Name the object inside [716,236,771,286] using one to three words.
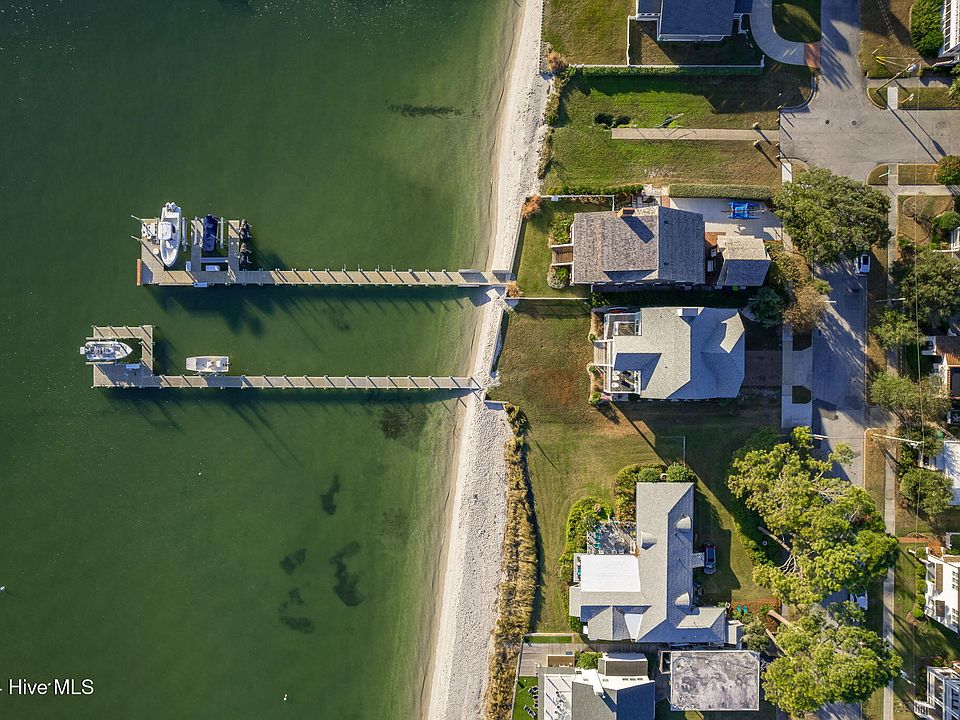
building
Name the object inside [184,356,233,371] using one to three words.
boat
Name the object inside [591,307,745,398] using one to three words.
house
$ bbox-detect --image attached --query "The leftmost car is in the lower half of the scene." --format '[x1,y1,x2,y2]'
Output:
[700,541,717,574]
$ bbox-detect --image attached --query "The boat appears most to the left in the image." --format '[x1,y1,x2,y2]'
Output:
[78,342,132,359]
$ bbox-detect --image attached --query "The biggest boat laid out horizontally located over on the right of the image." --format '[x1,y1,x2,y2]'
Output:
[724,202,768,218]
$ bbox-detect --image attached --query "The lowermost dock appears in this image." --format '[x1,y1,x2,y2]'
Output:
[90,325,479,390]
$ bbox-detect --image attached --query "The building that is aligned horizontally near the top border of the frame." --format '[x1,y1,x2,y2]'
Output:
[636,0,753,50]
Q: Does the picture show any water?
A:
Yes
